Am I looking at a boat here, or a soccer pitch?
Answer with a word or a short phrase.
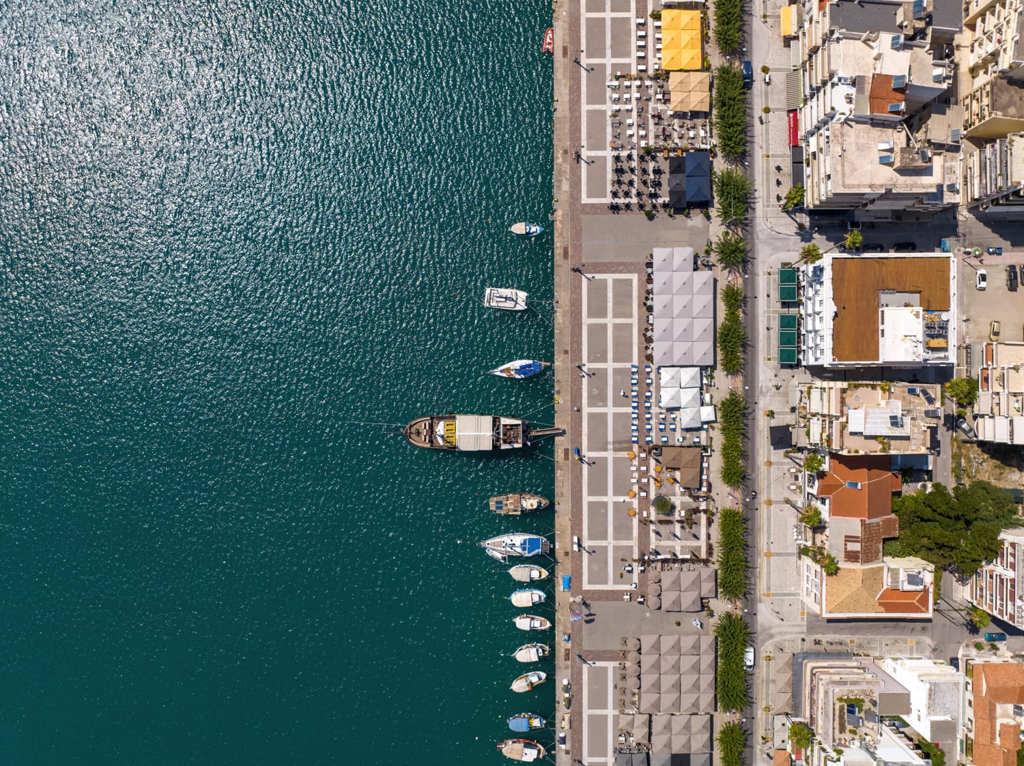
boat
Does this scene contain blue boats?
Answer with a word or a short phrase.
Yes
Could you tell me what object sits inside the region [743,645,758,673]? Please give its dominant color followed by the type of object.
white vehicle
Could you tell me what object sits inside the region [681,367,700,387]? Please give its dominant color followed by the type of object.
white umbrella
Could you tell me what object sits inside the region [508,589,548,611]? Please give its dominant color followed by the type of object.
white boat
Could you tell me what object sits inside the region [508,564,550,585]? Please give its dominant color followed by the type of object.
white boat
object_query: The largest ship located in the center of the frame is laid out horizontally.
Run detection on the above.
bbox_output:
[392,412,560,451]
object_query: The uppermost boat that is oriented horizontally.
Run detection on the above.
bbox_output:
[509,220,545,237]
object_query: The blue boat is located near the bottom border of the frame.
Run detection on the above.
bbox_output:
[507,714,546,736]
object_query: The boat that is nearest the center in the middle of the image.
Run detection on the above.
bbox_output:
[489,359,553,378]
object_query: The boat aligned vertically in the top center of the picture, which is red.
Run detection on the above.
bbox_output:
[542,26,554,54]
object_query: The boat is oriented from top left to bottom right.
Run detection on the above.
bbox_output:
[487,551,506,567]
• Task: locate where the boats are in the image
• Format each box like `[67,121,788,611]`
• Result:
[499,740,546,766]
[491,495,549,519]
[513,615,552,634]
[489,359,553,378]
[482,536,553,563]
[513,644,550,667]
[484,287,527,309]
[487,551,506,567]
[542,26,554,54]
[509,220,545,237]
[511,673,546,696]
[507,714,546,736]
[508,589,548,611]
[508,564,550,585]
